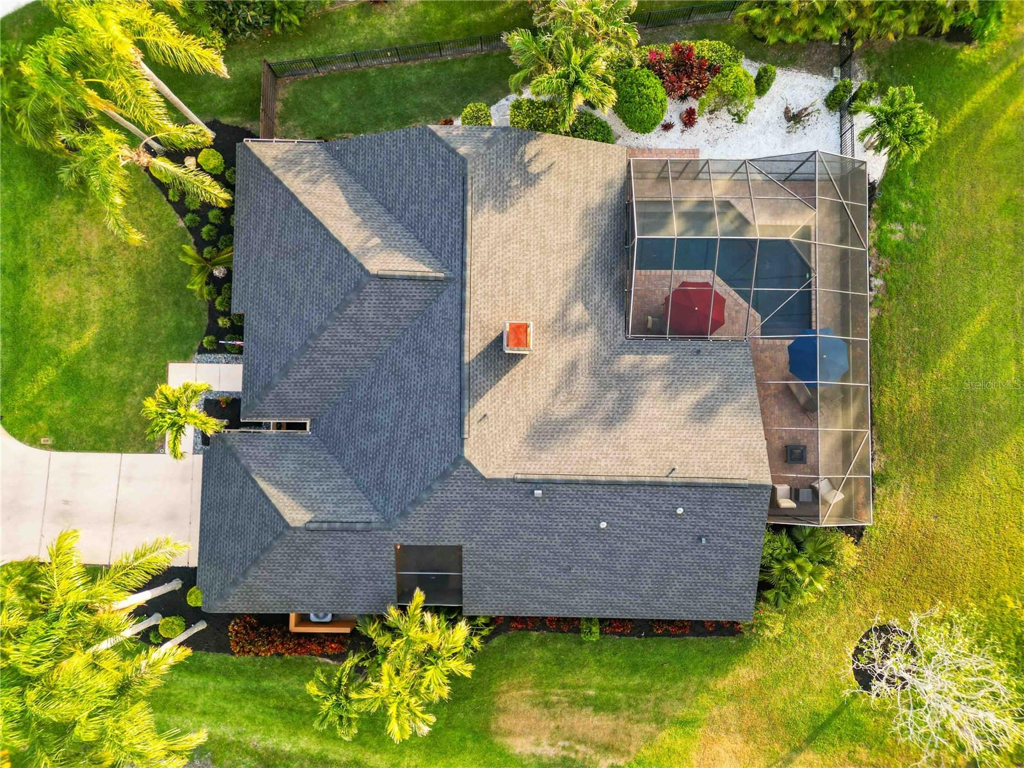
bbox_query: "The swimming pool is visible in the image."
[636,201,811,334]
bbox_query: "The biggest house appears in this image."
[200,123,772,619]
